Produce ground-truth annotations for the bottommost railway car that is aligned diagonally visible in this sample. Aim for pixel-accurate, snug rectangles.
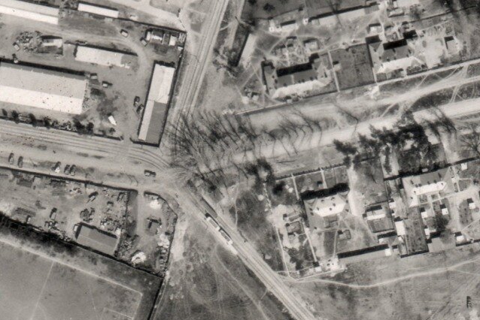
[220,228,234,246]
